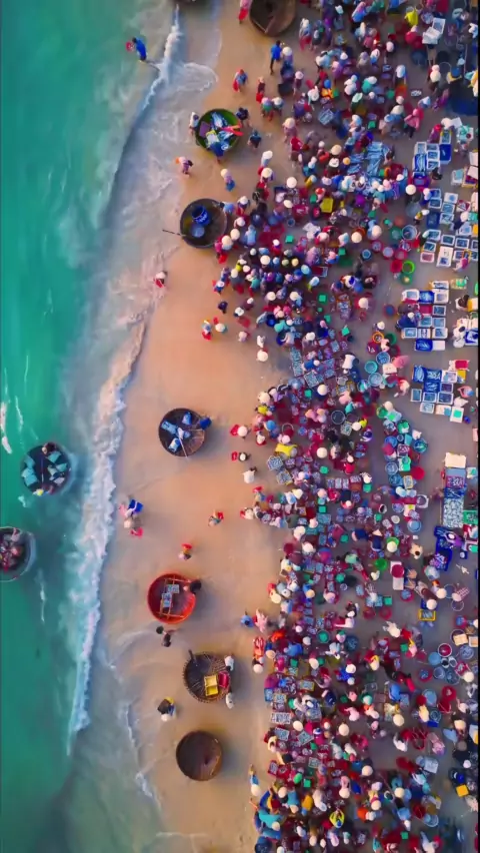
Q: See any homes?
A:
No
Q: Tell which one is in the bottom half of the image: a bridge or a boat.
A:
boat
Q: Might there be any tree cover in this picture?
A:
No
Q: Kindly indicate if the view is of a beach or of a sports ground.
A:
beach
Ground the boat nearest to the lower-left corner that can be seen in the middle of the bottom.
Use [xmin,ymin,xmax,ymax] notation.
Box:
[174,731,223,781]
